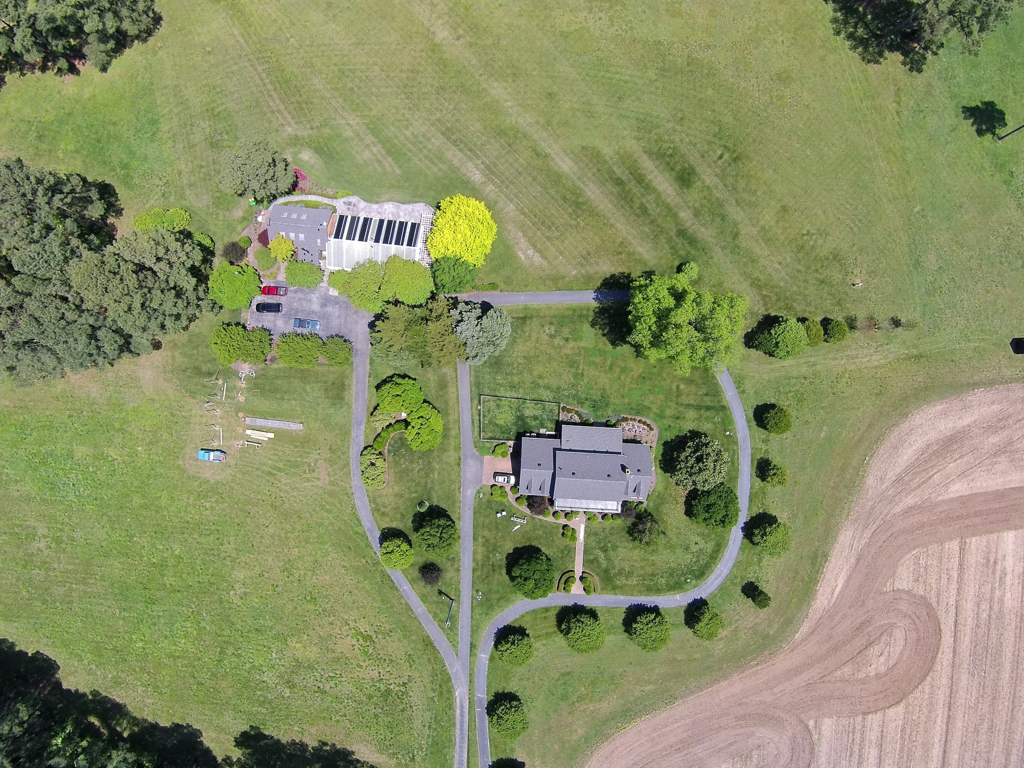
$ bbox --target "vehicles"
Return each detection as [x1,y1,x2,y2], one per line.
[255,301,282,313]
[196,450,225,462]
[292,318,320,330]
[493,474,516,484]
[261,284,288,296]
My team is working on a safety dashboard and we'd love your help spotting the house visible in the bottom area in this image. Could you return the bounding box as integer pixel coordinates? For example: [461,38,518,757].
[519,421,653,513]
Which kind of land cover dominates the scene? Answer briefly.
grass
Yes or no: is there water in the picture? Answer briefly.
No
